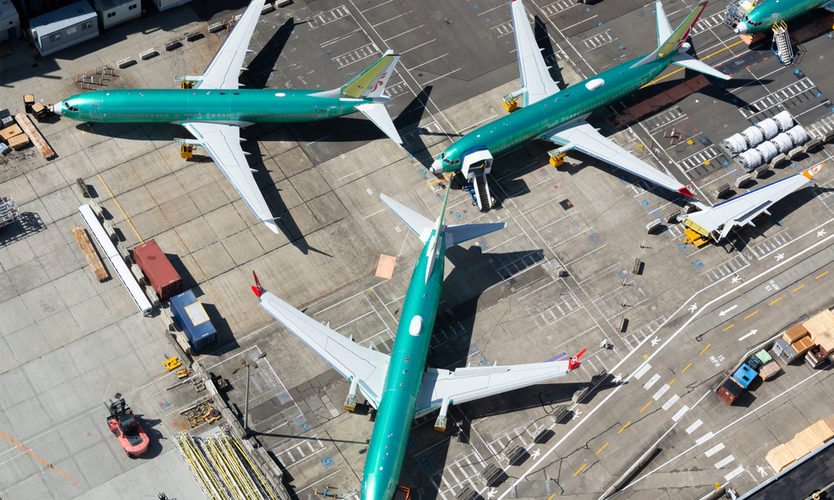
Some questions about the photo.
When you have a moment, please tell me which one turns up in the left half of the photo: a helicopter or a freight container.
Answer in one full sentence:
What appears in the left half of the photo is a freight container.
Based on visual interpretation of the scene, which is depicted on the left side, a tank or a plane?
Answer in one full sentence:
It is a plane that can be seen on the left side.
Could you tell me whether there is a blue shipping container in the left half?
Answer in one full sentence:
Yes, a blue shipping container can be seen in the left half.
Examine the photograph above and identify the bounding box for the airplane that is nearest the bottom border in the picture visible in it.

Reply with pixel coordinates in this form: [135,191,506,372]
[252,174,587,500]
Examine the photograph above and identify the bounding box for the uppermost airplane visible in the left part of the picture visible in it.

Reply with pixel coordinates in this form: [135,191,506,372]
[55,0,405,234]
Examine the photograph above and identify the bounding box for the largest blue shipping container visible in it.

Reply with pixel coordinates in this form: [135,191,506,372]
[169,290,217,353]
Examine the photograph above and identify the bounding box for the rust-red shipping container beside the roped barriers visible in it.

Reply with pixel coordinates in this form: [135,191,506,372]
[134,239,181,301]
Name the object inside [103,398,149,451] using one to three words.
work vehicle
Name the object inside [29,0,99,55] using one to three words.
trailer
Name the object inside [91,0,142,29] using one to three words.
trailer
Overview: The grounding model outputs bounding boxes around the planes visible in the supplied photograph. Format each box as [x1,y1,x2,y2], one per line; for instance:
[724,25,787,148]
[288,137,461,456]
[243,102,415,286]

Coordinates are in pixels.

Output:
[252,174,587,500]
[736,0,834,38]
[55,0,405,234]
[430,0,734,197]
